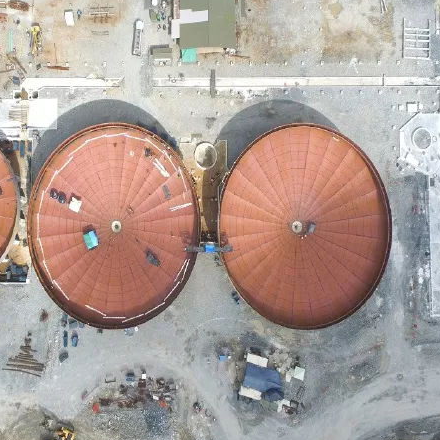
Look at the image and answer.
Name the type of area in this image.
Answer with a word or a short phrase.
industrial area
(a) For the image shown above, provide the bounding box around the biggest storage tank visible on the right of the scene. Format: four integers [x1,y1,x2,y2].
[216,123,392,330]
